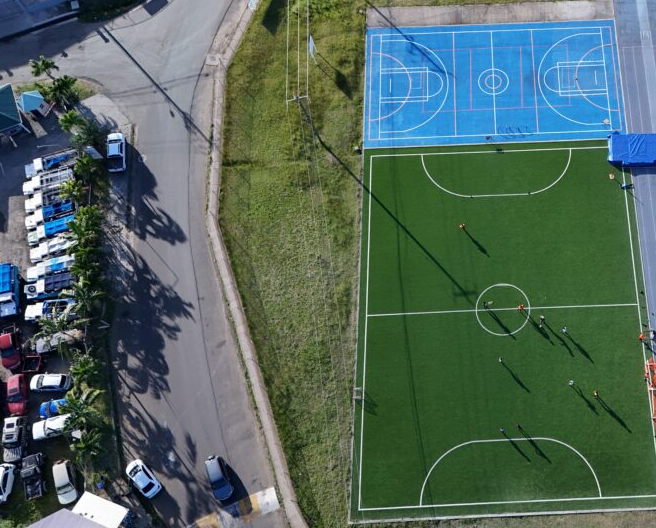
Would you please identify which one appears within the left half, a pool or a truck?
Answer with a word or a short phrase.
truck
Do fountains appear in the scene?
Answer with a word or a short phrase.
No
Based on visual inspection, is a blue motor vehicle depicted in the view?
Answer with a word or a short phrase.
Yes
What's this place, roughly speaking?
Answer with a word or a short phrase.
sports ground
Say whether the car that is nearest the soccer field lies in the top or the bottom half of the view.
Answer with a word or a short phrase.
bottom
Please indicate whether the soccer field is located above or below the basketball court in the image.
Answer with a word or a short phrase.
below it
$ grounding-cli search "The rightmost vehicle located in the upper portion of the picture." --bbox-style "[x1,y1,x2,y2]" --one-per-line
[105,132,129,175]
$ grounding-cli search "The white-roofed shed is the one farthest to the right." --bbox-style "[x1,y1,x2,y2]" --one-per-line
[75,491,137,528]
